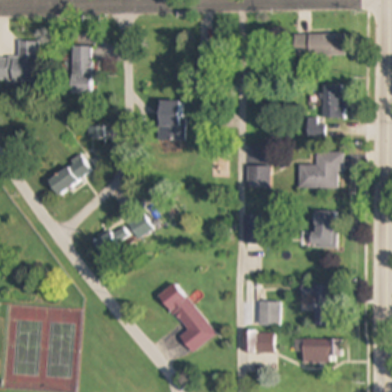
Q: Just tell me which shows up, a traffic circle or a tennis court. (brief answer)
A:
tennis court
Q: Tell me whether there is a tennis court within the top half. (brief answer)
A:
No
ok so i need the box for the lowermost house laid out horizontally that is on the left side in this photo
[99,216,153,242]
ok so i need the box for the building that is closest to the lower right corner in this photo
[296,338,346,369]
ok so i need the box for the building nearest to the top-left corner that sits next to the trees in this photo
[0,40,42,82]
